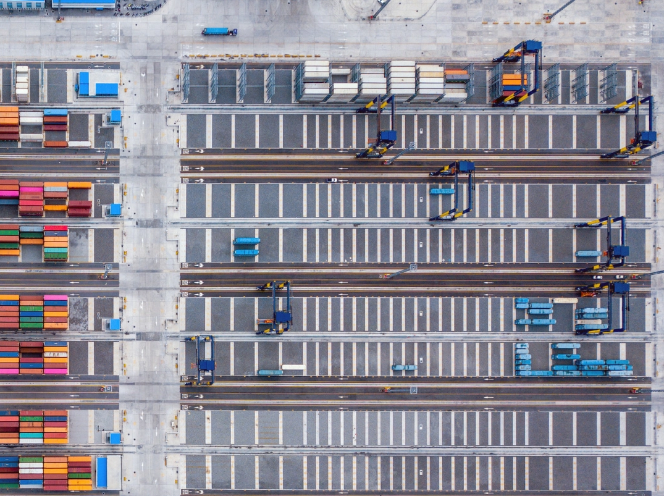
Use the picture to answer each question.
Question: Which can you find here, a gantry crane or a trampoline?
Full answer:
The image shows a gantry crane.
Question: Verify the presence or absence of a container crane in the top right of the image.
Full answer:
Yes, there is a container crane in the top right of the image.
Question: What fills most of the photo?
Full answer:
The largest share of the image is taken up by paved ground.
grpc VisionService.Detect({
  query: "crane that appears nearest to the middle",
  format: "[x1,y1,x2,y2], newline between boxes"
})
[258,280,291,335]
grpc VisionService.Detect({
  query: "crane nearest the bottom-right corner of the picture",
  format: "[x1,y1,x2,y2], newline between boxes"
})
[578,280,631,335]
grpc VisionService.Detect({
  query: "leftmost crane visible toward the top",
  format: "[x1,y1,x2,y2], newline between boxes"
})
[358,93,398,157]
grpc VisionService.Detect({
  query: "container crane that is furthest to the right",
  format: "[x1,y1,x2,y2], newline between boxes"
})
[604,93,658,157]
